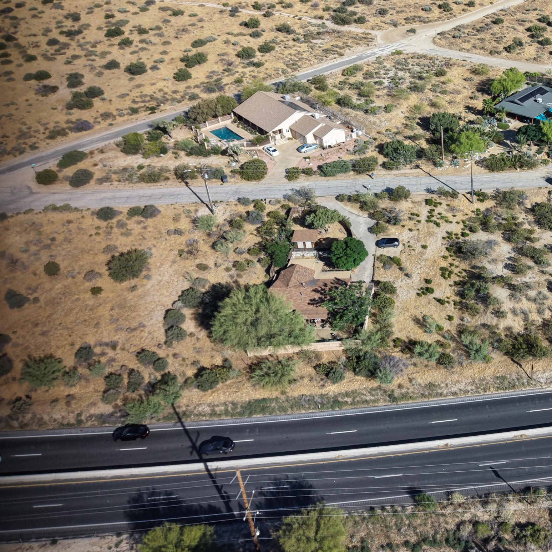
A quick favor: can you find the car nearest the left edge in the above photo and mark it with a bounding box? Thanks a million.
[109,427,148,443]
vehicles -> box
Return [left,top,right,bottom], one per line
[109,427,148,443]
[519,116,534,122]
[298,143,317,152]
[375,236,399,247]
[264,145,279,154]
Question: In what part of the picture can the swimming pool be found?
top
